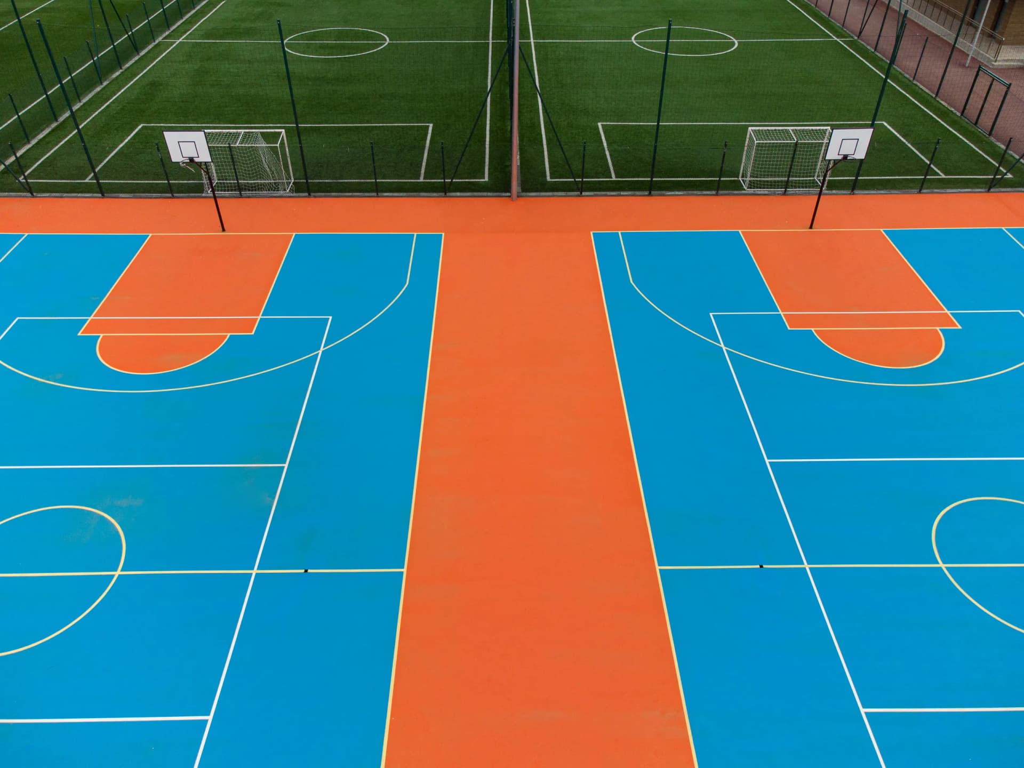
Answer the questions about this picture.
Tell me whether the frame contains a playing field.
Yes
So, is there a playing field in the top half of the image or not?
Yes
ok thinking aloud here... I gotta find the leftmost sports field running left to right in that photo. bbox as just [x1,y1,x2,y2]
[0,0,510,193]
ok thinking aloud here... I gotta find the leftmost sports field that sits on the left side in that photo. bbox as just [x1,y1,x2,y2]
[0,0,200,164]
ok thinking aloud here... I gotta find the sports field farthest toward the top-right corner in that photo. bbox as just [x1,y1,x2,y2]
[516,0,1024,193]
